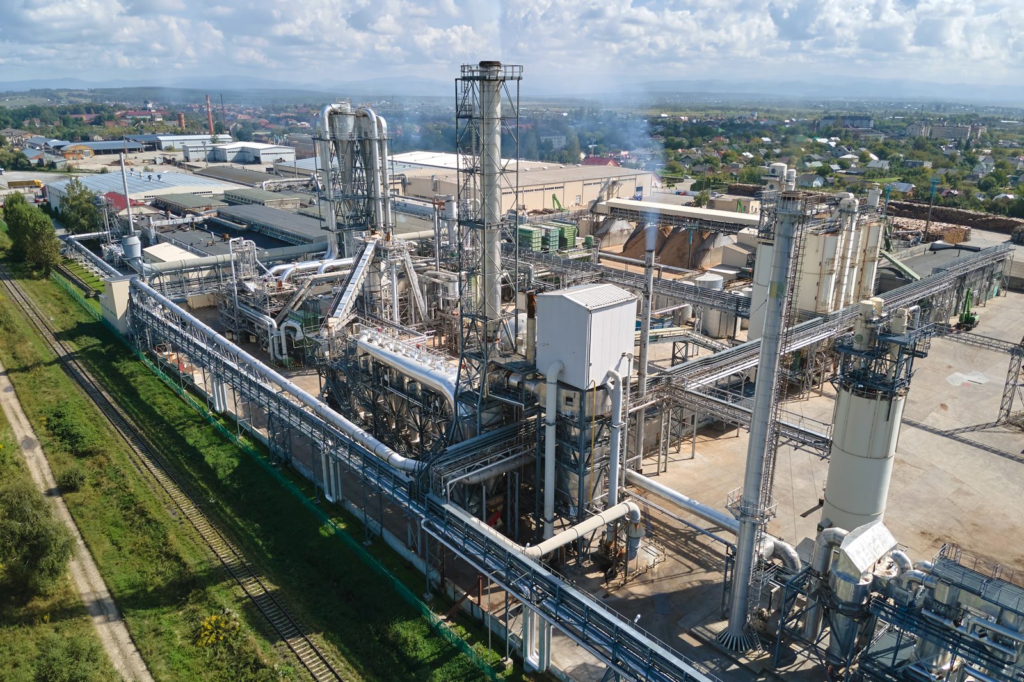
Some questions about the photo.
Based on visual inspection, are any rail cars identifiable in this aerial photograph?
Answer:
No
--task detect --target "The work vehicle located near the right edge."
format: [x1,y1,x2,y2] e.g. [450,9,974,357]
[942,280,984,331]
